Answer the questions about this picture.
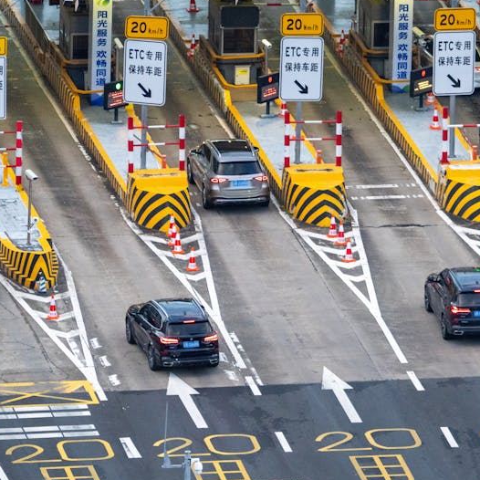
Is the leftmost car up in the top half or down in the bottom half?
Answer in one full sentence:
You can find the leftmost car in the bottom half.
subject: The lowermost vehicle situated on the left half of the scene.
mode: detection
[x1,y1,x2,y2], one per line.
[125,300,218,370]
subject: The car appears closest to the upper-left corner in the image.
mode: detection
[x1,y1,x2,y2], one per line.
[190,143,266,208]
